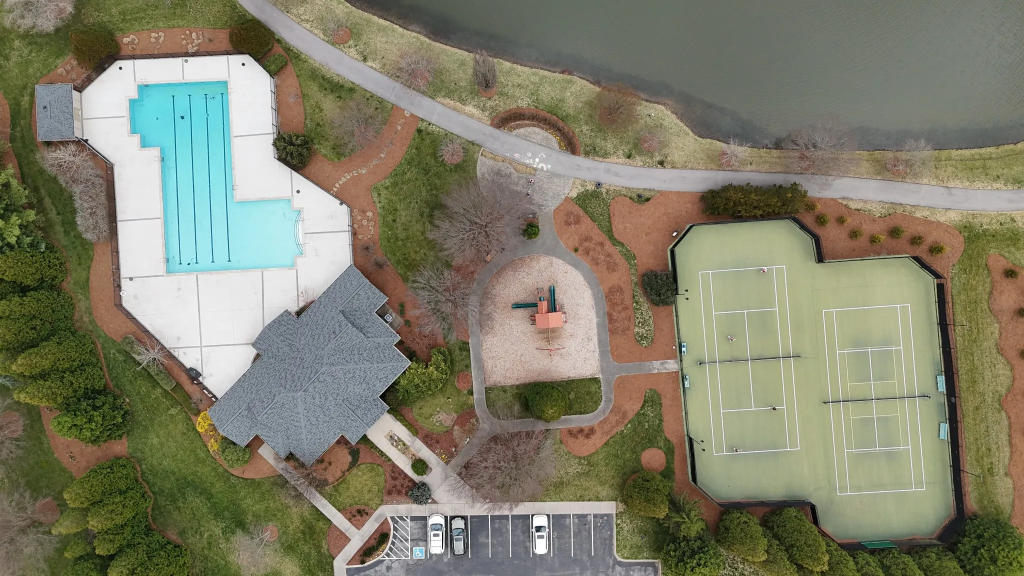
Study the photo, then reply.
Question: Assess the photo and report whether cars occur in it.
Yes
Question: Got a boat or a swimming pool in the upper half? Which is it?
swimming pool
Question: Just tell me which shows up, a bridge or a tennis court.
tennis court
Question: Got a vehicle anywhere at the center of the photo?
No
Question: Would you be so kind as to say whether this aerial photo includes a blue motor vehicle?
No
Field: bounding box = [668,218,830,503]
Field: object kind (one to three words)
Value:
tennis court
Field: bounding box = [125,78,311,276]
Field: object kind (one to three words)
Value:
swimming pool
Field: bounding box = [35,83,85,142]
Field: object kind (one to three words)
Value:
building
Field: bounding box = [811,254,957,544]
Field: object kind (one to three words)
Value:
tennis court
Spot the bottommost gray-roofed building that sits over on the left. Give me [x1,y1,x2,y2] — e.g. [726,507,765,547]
[207,264,412,467]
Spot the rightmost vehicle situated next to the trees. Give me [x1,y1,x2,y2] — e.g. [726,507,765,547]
[531,514,550,555]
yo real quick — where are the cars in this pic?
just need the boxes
[427,513,446,555]
[449,517,467,557]
[531,514,550,555]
